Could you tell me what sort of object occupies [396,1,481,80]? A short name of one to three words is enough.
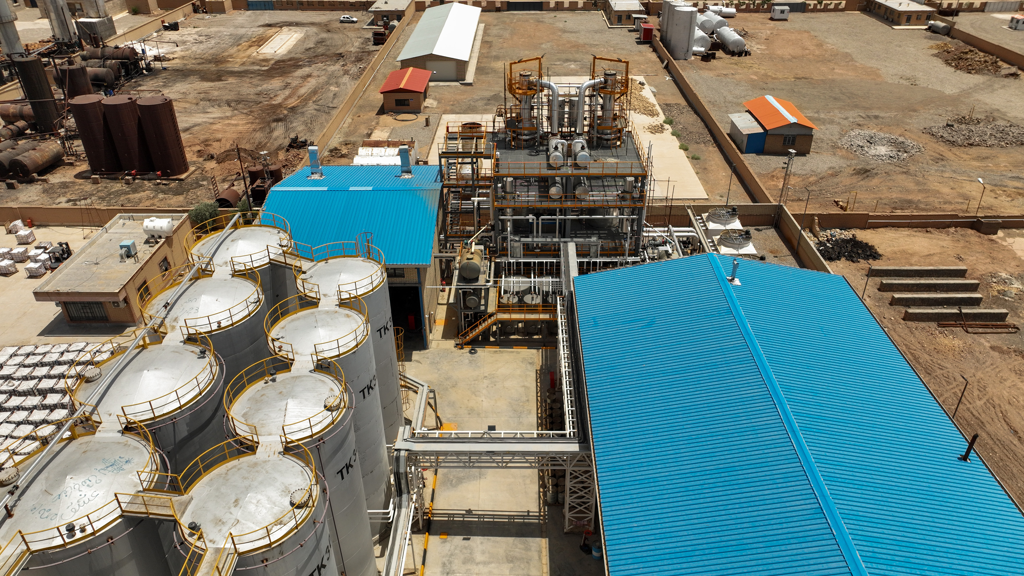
shed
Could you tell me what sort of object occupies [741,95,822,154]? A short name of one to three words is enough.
shed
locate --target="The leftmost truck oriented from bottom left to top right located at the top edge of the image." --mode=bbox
[372,18,397,43]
